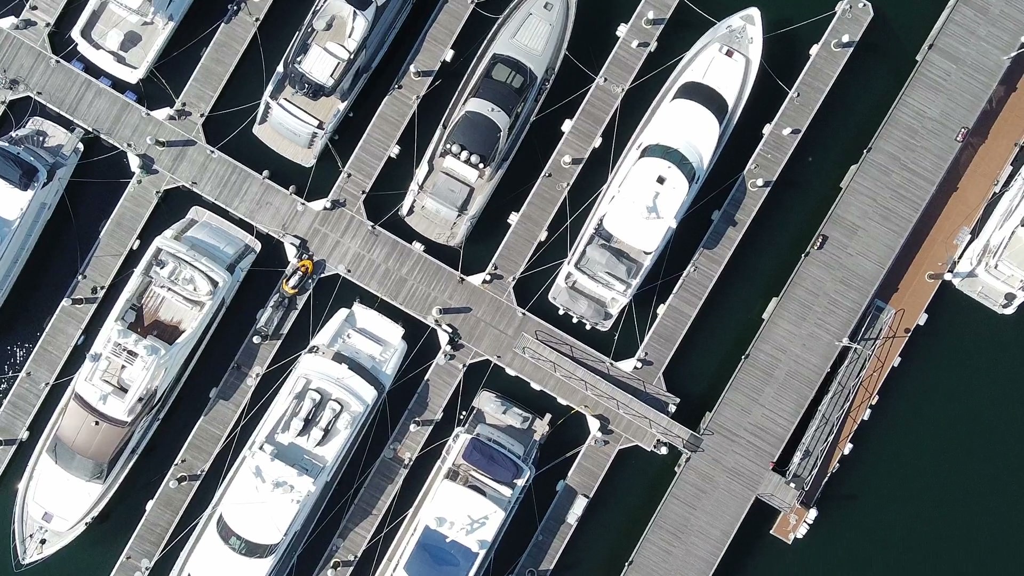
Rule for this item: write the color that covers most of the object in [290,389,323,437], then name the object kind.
white boat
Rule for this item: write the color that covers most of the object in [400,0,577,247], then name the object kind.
white boat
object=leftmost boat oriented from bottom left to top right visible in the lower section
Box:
[11,206,262,572]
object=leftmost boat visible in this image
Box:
[0,117,85,306]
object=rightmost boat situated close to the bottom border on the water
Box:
[378,387,551,576]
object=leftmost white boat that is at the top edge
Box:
[71,0,202,89]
